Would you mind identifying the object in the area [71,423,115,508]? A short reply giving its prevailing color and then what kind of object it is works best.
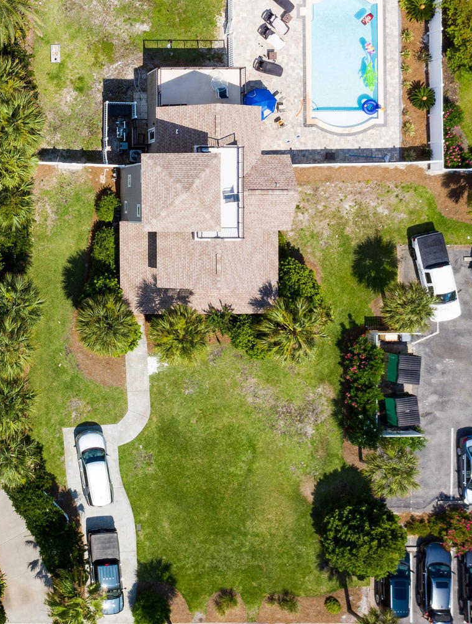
white car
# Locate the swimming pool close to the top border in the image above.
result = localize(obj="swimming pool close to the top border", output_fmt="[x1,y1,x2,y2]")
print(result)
[296,0,387,136]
